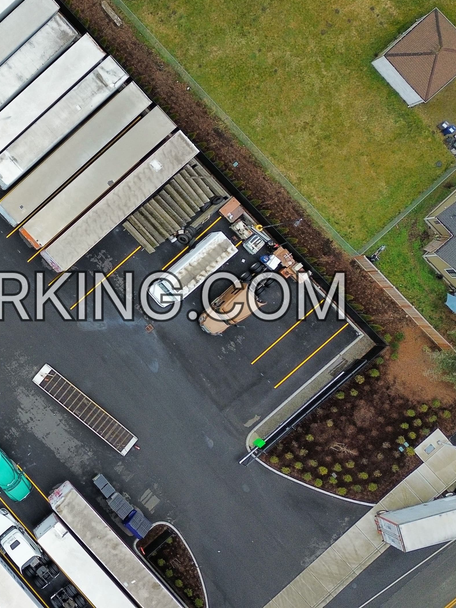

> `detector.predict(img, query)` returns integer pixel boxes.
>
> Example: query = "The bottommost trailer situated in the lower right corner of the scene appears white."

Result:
[372,494,456,553]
